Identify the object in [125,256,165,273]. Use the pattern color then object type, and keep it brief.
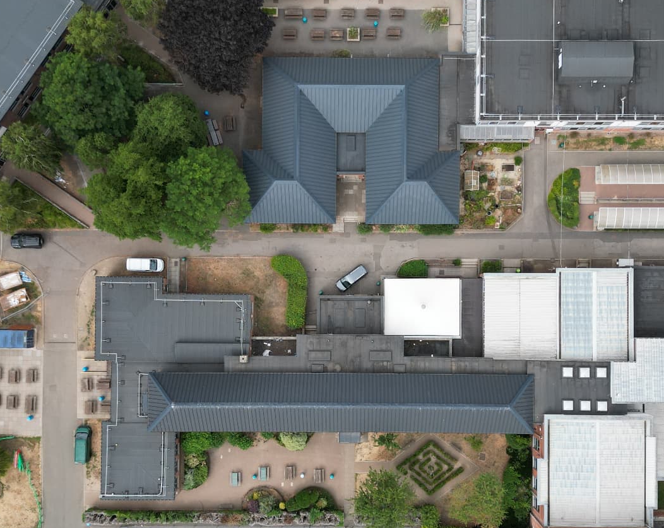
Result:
white vehicle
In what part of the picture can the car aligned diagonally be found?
center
